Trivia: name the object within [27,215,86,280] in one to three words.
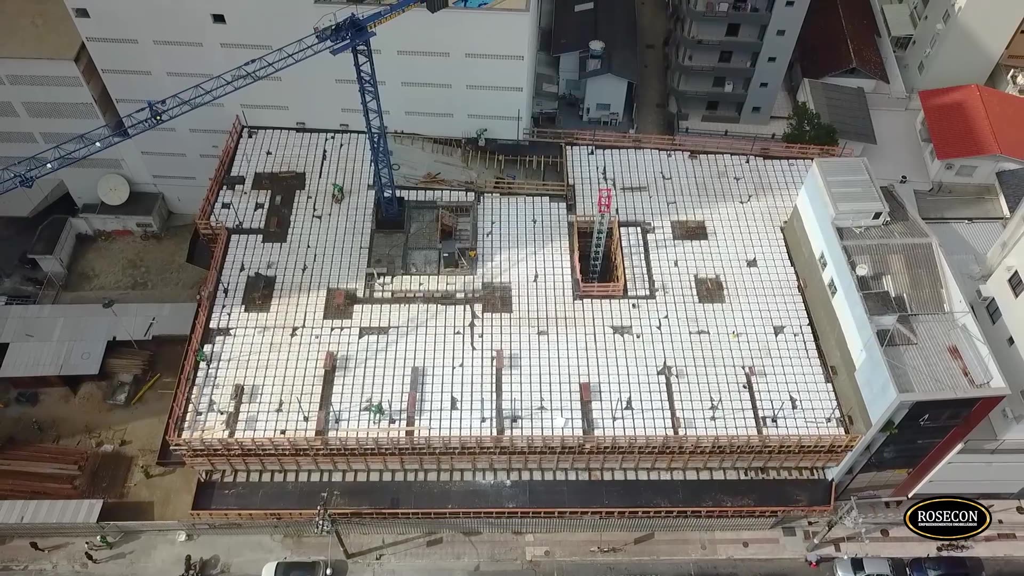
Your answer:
shed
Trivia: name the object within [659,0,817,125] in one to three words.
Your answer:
building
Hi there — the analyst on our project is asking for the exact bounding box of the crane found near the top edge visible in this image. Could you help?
[0,0,467,229]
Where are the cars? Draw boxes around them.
[902,552,985,576]
[829,553,903,576]
[260,564,334,576]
